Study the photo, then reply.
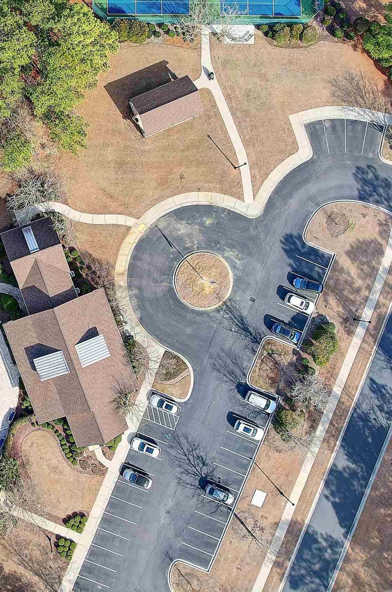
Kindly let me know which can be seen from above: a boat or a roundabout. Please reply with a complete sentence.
Looking from above, you can make out a roundabout.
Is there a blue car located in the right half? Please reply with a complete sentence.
Yes, you'll find a blue car in the right half.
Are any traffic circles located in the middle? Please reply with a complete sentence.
Yes, the scene does show a traffic circle in the middle.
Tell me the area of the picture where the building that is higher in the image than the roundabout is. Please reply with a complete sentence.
The building that is higher in the image than the roundabout appears toward the top of the photo.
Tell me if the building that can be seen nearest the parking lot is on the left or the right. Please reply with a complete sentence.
The building that can be seen nearest the parking lot sits on the left side.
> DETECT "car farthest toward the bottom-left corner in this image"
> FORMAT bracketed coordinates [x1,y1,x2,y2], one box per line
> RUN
[124,470,154,490]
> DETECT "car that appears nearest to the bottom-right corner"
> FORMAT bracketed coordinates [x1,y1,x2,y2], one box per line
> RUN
[206,486,236,505]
